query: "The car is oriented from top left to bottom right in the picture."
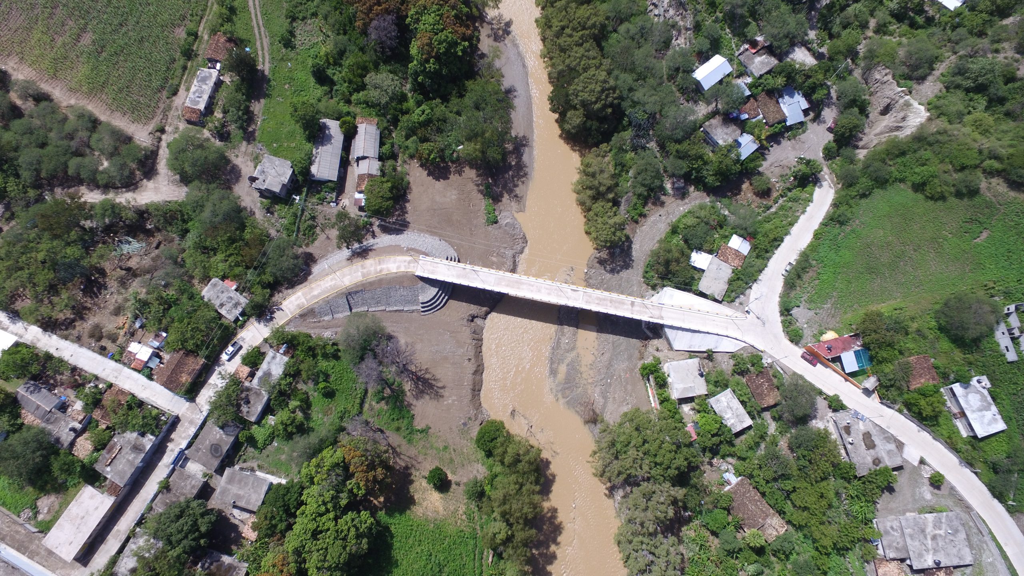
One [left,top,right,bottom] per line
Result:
[799,349,823,369]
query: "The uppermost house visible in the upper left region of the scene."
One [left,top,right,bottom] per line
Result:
[204,31,238,68]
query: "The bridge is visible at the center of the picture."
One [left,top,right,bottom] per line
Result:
[416,254,764,352]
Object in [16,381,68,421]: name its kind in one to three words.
shed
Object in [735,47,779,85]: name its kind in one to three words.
house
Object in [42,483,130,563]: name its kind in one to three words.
building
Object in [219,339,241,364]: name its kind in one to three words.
truck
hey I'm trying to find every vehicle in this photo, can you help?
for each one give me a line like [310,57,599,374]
[799,349,823,369]
[219,339,241,364]
[826,112,842,134]
[779,257,796,279]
